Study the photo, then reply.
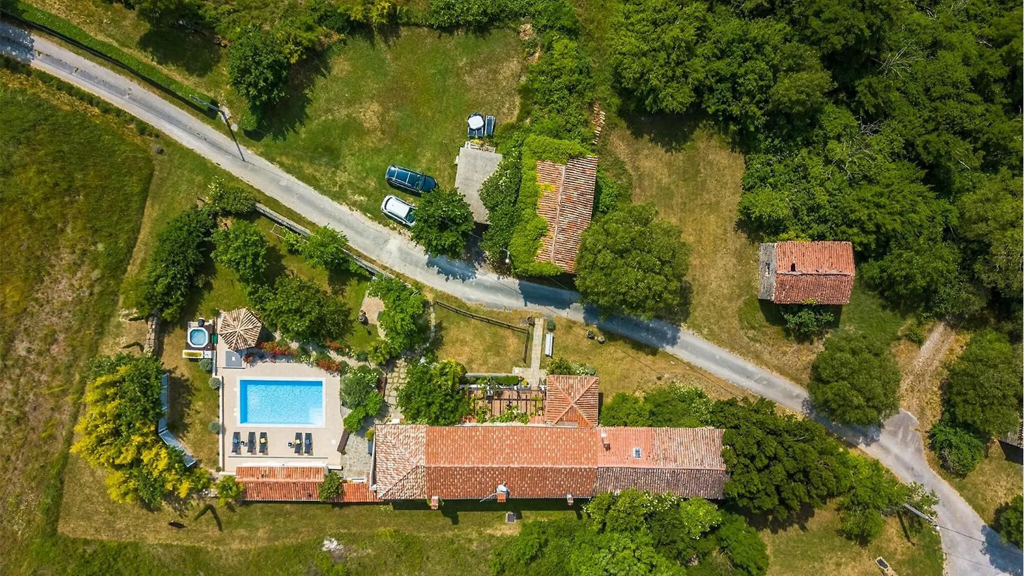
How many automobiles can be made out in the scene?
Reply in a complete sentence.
My tally gives 2 automobiles in this view.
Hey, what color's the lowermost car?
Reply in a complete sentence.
The lowermost car is white.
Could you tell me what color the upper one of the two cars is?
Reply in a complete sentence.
The upper one of the two cars looks blue in the image.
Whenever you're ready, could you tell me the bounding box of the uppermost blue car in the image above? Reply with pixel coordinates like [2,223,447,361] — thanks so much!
[384,165,438,194]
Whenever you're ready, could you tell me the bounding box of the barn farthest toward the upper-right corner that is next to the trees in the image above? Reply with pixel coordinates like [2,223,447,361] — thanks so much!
[760,241,857,306]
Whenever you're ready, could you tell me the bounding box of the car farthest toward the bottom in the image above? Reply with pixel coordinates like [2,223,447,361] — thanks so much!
[380,197,422,230]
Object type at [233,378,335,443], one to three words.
swimming pool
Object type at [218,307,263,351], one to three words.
gazebo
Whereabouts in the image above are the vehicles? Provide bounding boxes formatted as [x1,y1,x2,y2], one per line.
[384,165,438,194]
[380,197,422,230]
